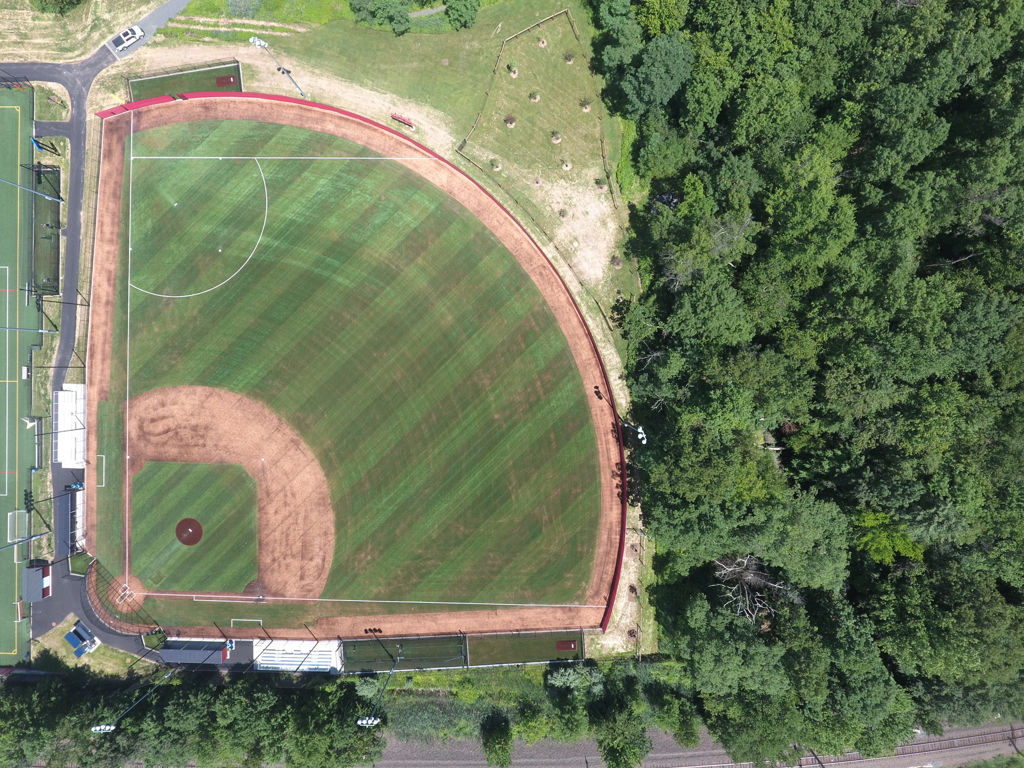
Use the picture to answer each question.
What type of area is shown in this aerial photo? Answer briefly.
sports ground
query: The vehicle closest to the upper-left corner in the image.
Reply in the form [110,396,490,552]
[111,24,143,51]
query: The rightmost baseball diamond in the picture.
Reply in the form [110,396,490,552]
[86,98,623,640]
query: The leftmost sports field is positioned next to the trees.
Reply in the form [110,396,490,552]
[0,86,42,666]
